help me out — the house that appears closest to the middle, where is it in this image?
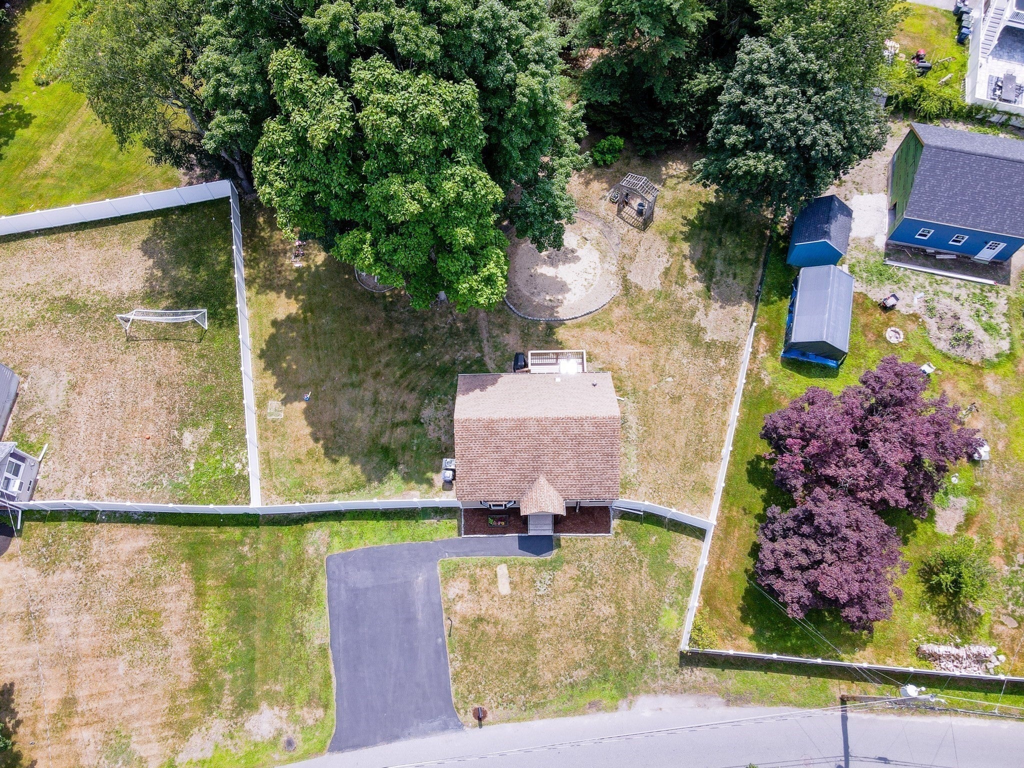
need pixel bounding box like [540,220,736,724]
[454,371,621,525]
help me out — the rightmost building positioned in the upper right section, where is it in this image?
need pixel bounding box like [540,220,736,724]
[887,122,1024,261]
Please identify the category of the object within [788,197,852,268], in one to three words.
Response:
shed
